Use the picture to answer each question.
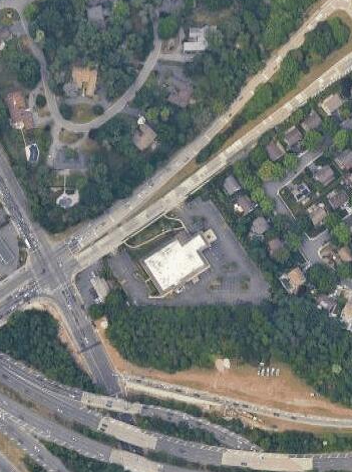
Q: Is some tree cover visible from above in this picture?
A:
Yes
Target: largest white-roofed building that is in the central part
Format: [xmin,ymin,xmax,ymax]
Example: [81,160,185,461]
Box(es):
[144,235,205,291]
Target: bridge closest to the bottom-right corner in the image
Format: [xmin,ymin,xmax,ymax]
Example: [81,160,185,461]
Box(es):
[221,450,313,472]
